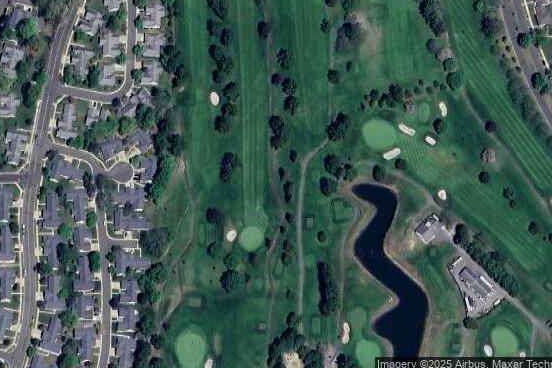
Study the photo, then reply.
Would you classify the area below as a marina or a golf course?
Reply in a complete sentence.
This image shows a golf course.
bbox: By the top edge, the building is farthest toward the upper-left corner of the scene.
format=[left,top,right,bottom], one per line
[6,3,28,27]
